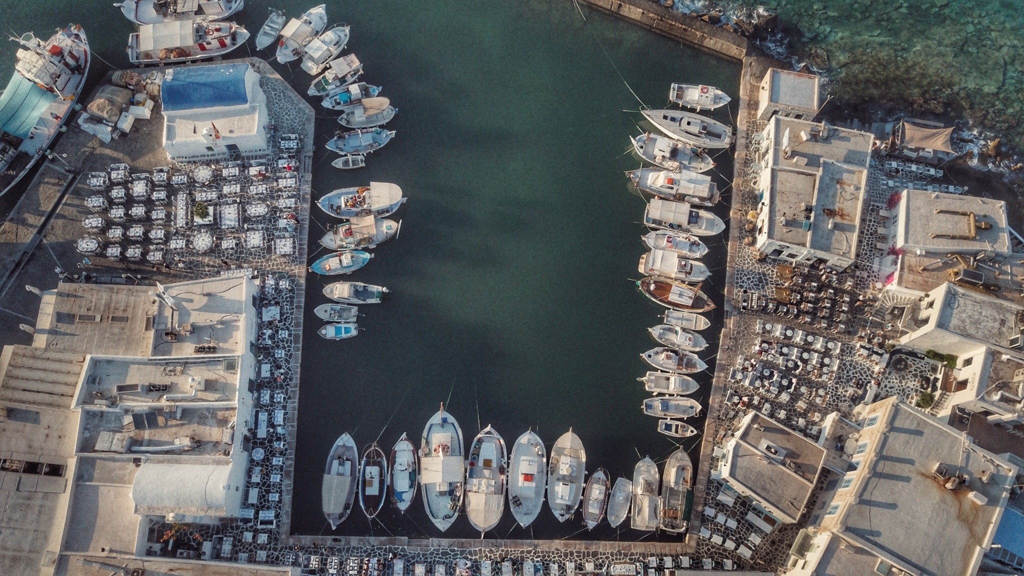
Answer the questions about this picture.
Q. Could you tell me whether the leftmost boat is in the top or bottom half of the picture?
top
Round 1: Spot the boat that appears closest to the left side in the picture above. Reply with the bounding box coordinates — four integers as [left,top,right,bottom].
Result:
[0,16,90,203]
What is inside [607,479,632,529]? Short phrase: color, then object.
gray boat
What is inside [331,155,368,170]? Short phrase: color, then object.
gray boat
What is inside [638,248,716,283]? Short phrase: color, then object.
white boat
